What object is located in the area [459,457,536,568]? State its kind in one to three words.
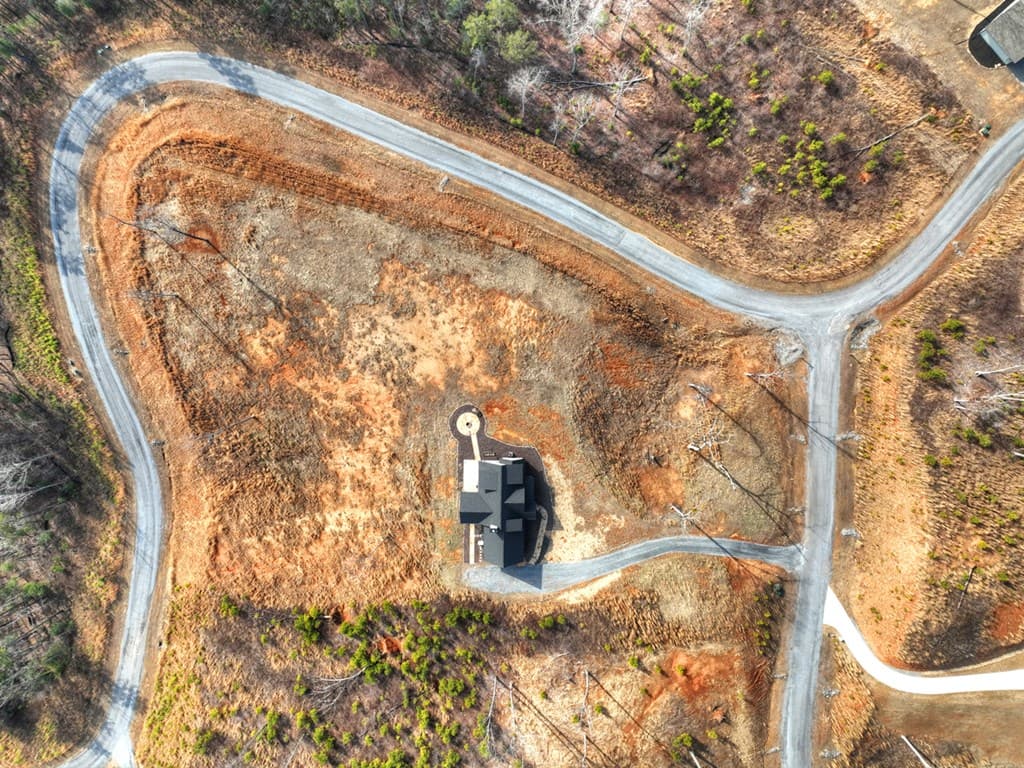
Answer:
house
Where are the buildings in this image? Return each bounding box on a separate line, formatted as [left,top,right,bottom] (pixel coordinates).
[459,457,536,568]
[967,0,1024,74]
